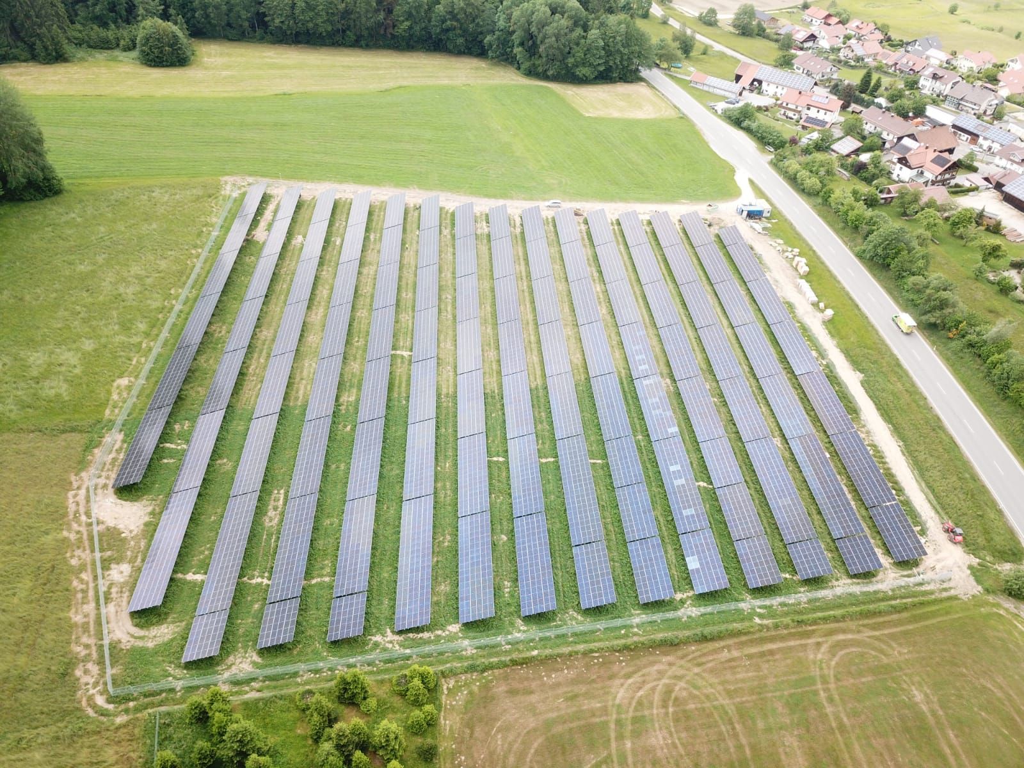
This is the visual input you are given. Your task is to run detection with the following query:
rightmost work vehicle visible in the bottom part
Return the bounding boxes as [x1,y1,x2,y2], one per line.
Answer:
[939,523,968,544]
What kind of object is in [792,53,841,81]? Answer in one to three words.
house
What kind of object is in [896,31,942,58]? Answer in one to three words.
house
